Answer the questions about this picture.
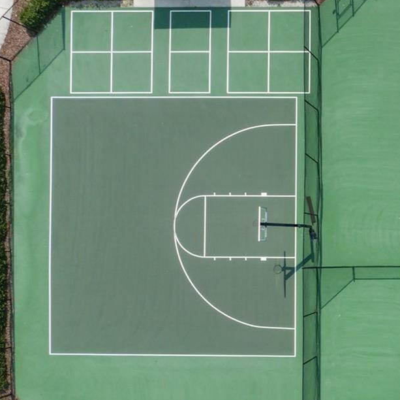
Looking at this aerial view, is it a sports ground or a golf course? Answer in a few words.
sports ground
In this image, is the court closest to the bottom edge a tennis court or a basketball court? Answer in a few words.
basketball court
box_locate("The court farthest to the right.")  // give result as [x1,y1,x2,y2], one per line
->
[227,10,310,94]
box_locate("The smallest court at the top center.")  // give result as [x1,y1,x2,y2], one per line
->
[168,10,211,94]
